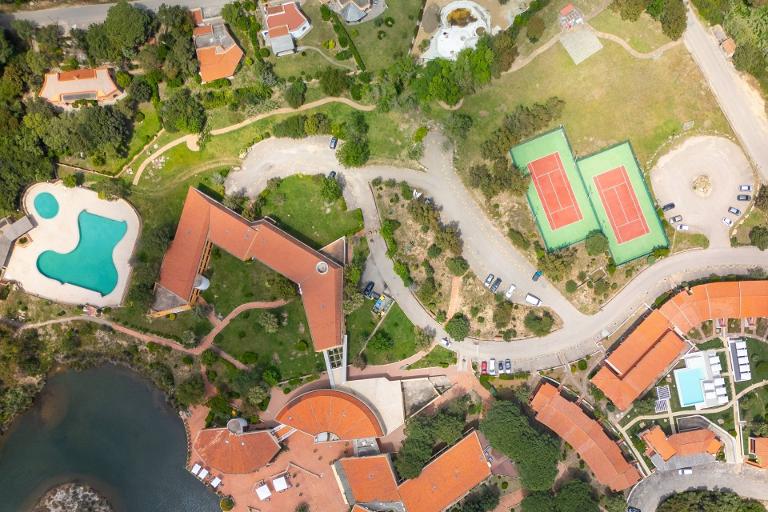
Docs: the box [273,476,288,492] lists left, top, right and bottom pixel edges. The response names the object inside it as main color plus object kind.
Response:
white umbrella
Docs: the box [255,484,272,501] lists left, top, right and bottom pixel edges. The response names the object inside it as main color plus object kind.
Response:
white umbrella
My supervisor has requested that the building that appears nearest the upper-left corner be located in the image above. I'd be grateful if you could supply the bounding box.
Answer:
[38,67,128,105]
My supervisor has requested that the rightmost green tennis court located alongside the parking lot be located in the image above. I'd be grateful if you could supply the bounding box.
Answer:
[578,140,673,266]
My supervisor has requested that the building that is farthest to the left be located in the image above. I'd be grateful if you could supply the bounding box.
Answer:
[0,216,38,269]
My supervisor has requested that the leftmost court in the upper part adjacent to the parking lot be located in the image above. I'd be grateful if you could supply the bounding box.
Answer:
[512,125,607,252]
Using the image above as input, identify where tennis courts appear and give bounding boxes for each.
[512,125,607,252]
[578,140,673,266]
